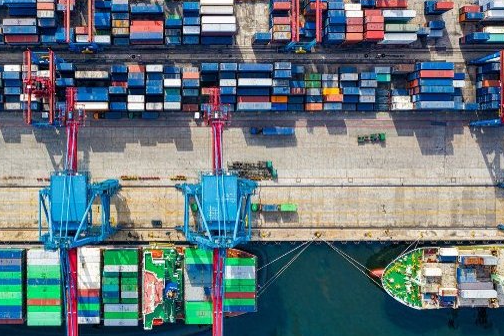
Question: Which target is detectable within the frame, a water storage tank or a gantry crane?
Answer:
gantry crane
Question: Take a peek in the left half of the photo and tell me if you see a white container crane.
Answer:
No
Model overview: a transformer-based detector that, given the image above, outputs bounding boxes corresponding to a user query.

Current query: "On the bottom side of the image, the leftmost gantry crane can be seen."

[38,88,122,336]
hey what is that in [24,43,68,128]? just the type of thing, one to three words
crane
